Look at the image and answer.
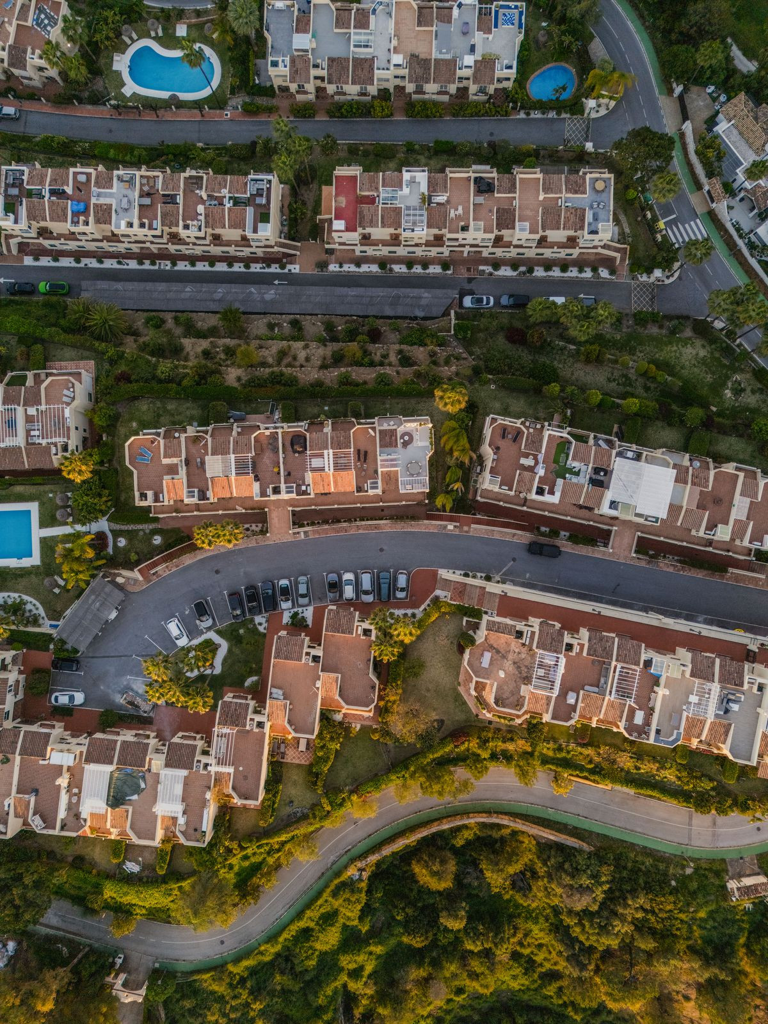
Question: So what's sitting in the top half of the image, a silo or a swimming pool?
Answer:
swimming pool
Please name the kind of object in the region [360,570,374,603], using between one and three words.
car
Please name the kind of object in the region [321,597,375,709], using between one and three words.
house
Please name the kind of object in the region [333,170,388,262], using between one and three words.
house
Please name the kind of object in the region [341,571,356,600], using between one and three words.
car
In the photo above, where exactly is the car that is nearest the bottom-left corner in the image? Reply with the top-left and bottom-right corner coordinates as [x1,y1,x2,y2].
[51,691,85,706]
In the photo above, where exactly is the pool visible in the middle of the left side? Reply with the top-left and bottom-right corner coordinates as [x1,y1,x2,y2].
[0,502,40,567]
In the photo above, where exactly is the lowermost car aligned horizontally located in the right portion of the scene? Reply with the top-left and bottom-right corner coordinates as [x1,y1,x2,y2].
[527,541,561,557]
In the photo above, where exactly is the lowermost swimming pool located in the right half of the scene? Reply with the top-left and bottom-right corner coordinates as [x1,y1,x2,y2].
[527,62,577,103]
